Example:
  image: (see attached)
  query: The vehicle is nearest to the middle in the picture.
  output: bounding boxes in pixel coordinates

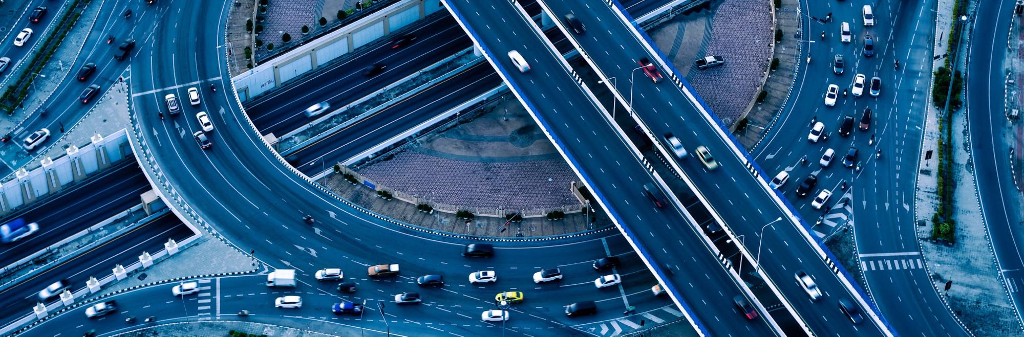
[462,242,492,257]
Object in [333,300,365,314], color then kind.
blue vehicle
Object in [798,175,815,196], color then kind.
black car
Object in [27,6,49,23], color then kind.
black car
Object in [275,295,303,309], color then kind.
white car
